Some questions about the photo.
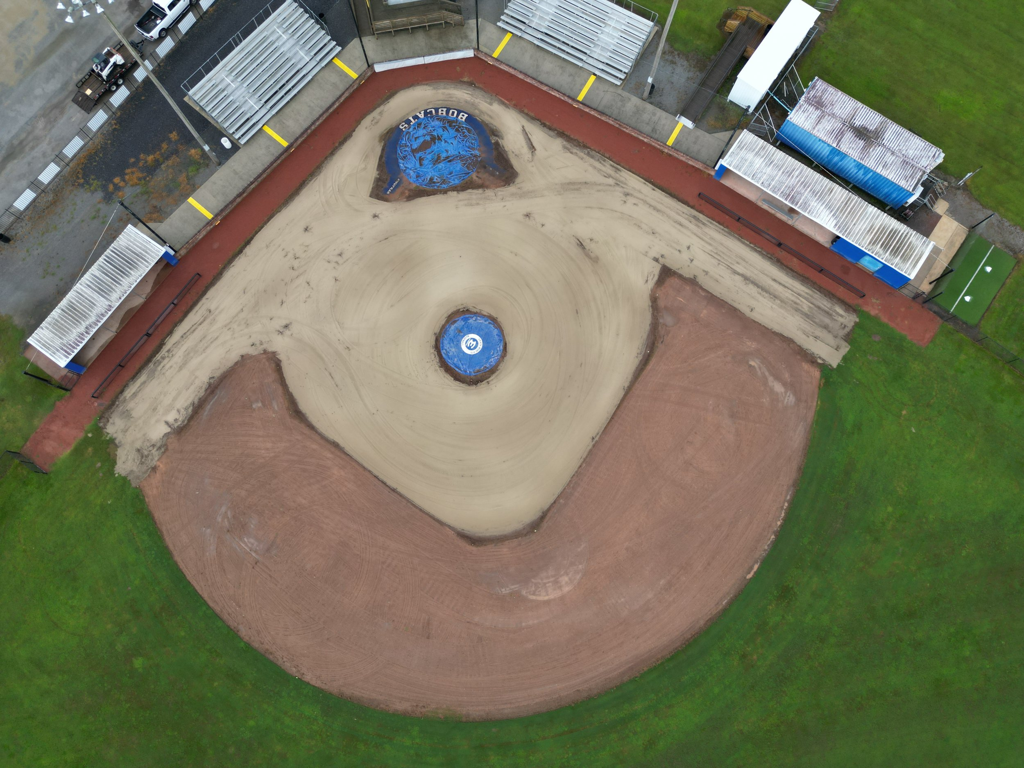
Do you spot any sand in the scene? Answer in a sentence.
Yes, the picture does contain sand.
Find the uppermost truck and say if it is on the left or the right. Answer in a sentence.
It is on the left.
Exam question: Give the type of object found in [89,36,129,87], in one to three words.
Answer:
work vehicle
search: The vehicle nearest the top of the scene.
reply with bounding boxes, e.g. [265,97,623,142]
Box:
[133,0,198,43]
